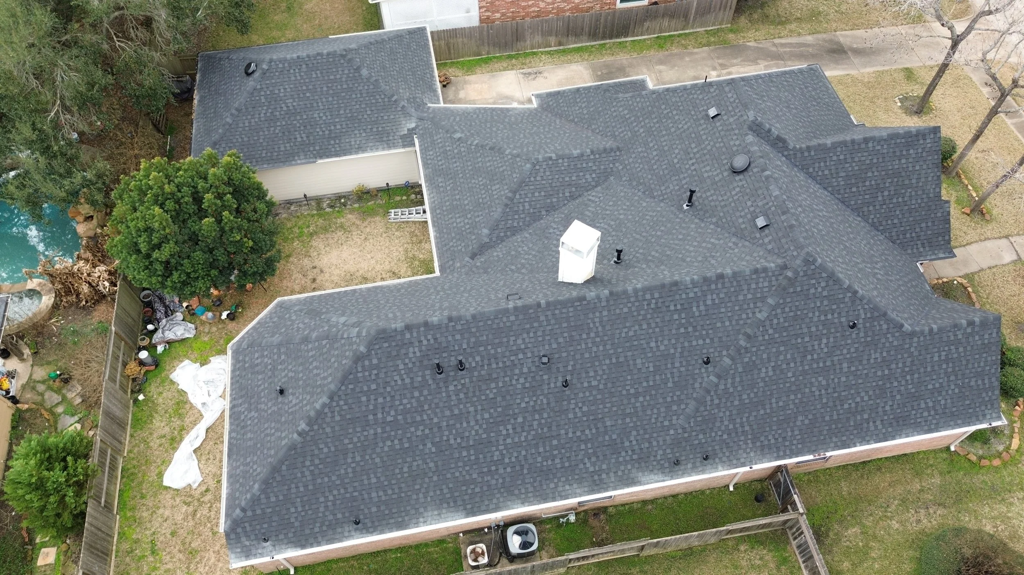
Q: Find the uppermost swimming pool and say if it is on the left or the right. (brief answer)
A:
left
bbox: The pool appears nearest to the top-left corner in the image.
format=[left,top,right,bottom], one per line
[0,165,80,280]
